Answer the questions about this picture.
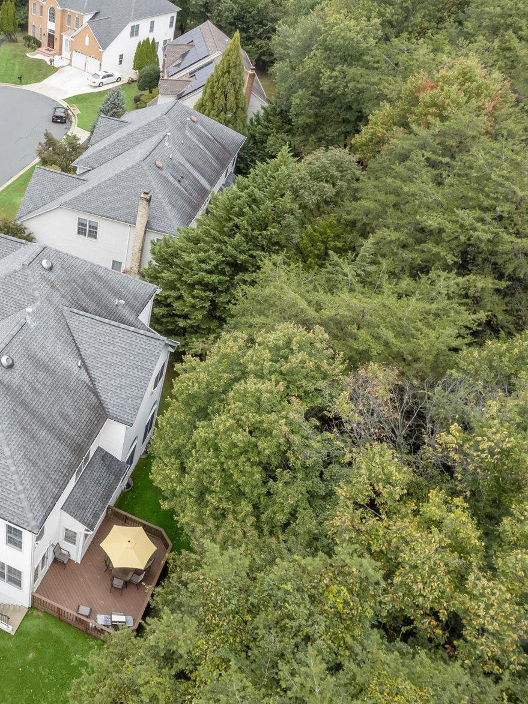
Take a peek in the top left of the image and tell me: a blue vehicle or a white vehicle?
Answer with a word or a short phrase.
white vehicle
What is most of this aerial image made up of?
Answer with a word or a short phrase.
trees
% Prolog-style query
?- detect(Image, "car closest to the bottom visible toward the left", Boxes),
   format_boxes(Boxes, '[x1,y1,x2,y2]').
[51,103,70,121]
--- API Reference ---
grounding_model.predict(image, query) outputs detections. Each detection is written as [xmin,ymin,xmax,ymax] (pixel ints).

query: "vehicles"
[88,69,124,85]
[51,103,70,121]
